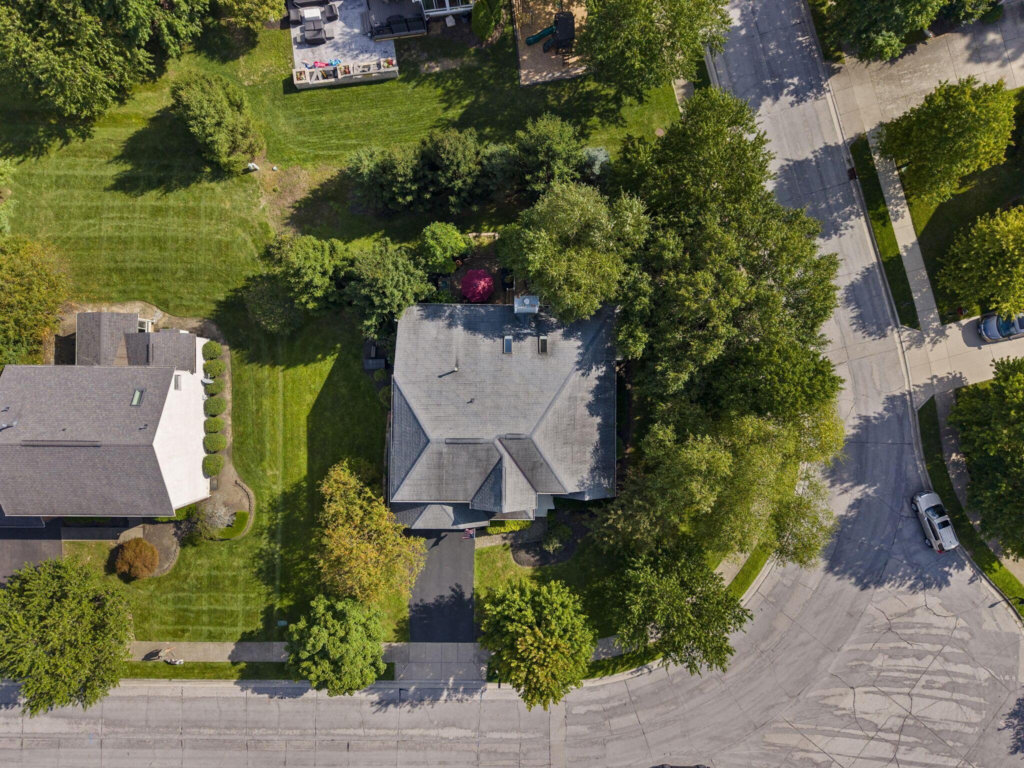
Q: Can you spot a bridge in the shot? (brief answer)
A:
No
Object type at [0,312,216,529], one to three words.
house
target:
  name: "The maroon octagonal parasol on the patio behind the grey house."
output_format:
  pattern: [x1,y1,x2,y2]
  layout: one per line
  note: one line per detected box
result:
[461,271,492,301]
